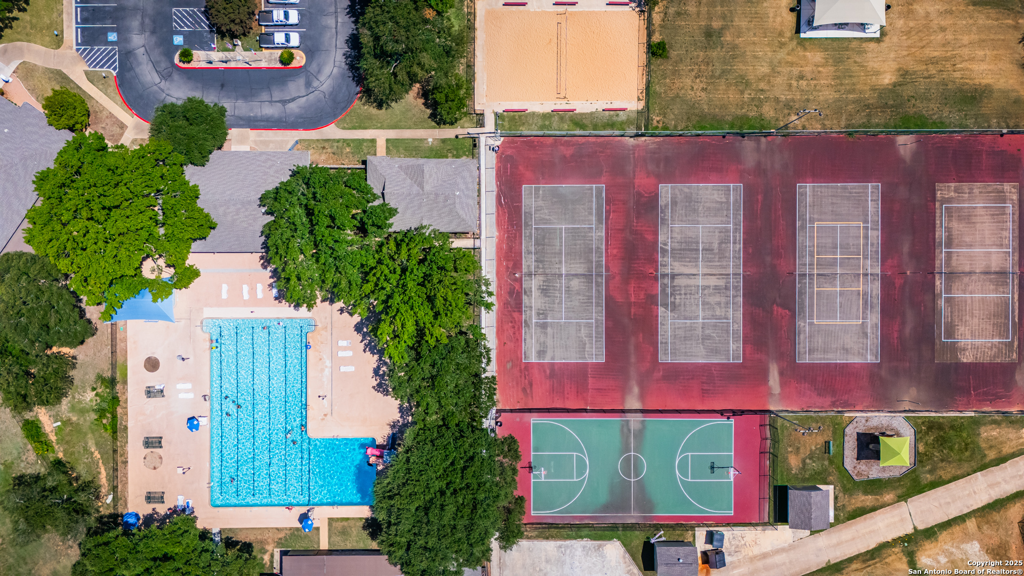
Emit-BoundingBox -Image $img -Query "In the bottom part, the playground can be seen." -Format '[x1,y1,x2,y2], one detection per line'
[861,431,911,466]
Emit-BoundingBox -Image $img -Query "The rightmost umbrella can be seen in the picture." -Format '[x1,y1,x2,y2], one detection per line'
[300,515,316,531]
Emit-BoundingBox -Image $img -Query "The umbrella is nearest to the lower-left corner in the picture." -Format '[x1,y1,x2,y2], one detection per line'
[123,508,144,529]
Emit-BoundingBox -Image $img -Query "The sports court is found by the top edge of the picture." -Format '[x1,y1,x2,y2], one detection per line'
[474,0,644,114]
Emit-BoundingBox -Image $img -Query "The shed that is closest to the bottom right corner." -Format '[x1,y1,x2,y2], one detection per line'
[780,483,829,531]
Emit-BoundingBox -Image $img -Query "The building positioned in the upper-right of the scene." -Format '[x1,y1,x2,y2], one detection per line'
[804,0,886,33]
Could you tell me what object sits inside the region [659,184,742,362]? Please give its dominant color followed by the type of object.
gray tennis court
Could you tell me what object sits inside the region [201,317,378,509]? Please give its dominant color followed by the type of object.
blue swimming pool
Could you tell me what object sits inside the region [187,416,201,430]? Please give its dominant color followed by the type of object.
blue umbrella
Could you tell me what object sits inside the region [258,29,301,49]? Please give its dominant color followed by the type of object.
white vehicle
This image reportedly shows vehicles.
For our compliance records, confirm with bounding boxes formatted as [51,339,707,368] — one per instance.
[263,0,299,6]
[257,6,301,26]
[258,29,301,49]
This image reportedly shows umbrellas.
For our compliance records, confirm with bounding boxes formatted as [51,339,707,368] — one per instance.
[187,416,201,430]
[300,515,316,531]
[123,508,144,529]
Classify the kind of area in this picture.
sports ground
